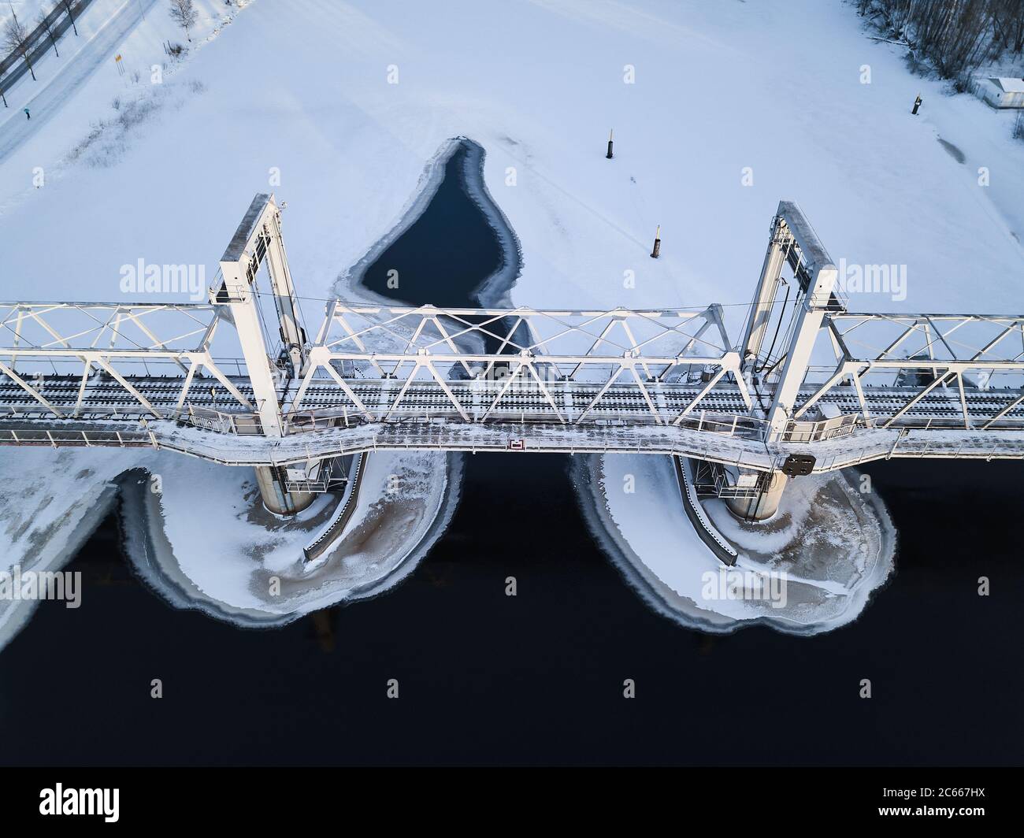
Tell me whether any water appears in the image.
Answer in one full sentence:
Yes, some water is visible.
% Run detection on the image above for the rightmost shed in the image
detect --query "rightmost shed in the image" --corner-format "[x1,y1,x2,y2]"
[957,75,1024,109]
